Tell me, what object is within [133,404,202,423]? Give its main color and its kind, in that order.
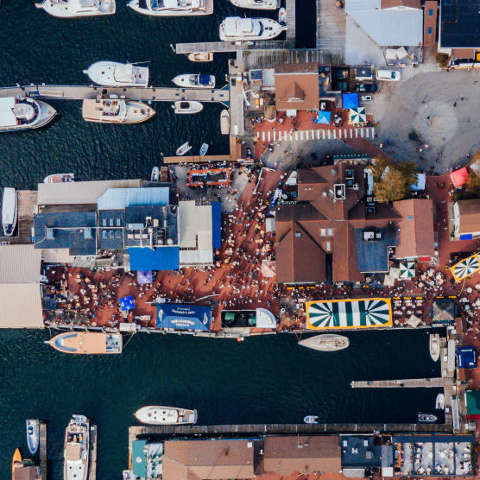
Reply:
white boat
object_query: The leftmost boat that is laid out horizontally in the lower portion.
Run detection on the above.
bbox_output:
[43,331,125,353]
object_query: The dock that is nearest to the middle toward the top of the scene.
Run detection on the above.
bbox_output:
[164,136,244,165]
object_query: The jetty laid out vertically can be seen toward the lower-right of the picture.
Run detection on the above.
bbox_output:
[440,331,456,434]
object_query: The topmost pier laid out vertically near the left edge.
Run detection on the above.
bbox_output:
[18,190,34,233]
